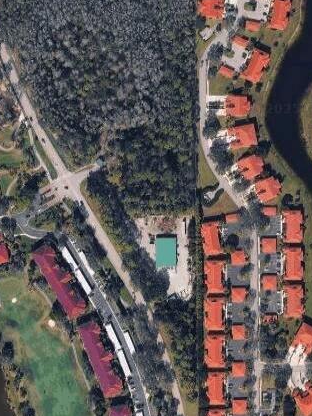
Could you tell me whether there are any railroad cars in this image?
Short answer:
No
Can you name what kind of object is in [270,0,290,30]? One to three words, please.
building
